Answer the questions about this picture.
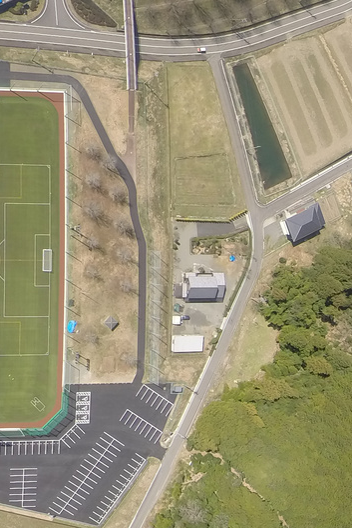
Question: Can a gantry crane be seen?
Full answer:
No, there isn't any gantry crane down there.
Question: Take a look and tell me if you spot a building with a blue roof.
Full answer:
No, I can see no building with a blue roof in this picture.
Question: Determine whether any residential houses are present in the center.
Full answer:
Yes, there is a residential house in the center.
